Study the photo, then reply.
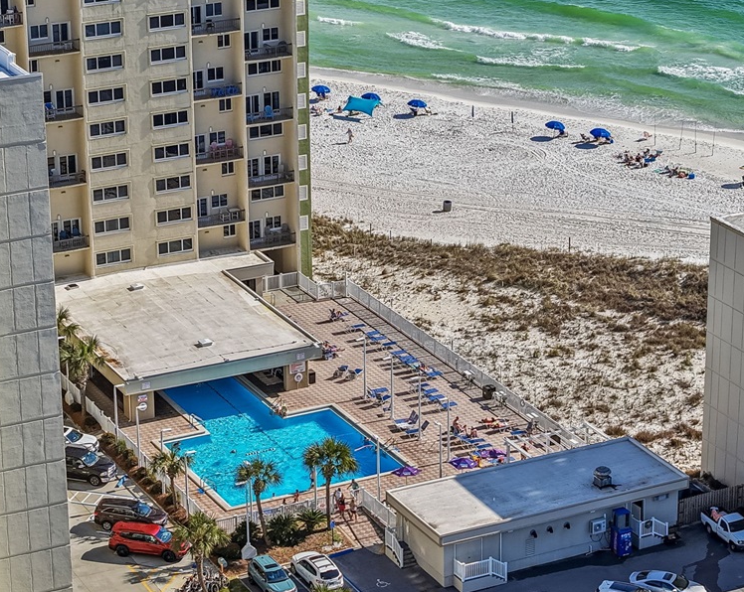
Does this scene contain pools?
Yes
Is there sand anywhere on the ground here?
Yes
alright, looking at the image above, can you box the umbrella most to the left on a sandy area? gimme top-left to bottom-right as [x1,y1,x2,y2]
[310,84,332,100]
